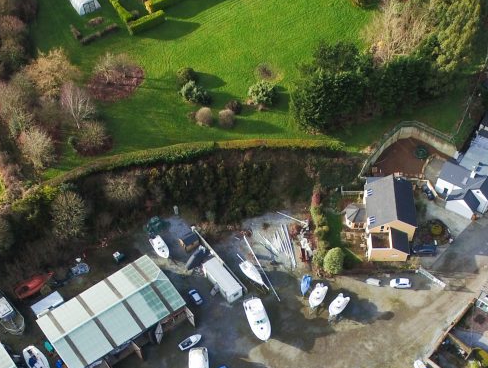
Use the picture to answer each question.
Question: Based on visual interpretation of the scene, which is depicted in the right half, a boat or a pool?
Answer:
boat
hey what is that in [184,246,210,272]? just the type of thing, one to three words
boat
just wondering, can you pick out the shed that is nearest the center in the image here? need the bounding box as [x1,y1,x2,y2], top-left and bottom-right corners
[179,232,201,253]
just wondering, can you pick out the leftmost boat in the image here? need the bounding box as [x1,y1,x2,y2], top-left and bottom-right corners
[0,288,24,335]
